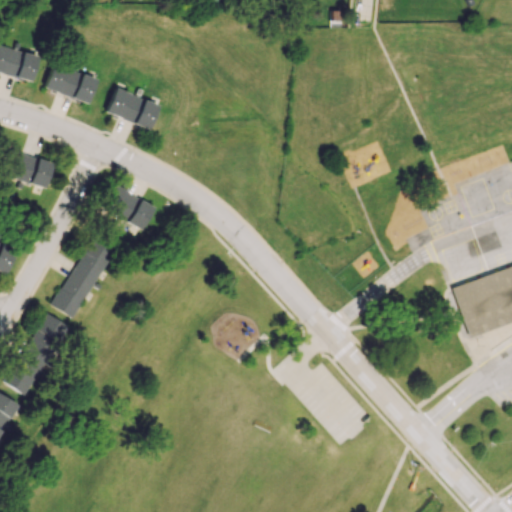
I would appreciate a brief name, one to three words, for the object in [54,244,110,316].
house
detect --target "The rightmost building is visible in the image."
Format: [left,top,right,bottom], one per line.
[452,267,512,335]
